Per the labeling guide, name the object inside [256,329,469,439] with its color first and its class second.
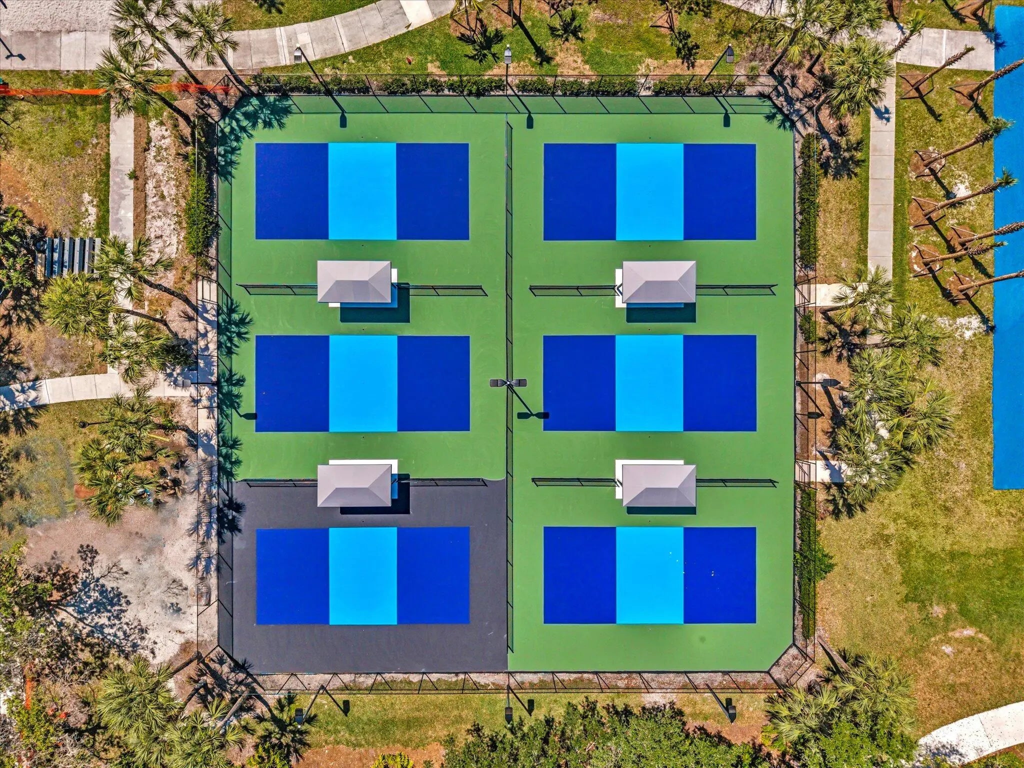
blue sports court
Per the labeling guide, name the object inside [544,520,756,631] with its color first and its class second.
blue sports court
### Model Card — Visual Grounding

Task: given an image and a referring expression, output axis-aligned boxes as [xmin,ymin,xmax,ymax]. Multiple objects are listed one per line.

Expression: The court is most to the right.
[992,6,1024,489]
